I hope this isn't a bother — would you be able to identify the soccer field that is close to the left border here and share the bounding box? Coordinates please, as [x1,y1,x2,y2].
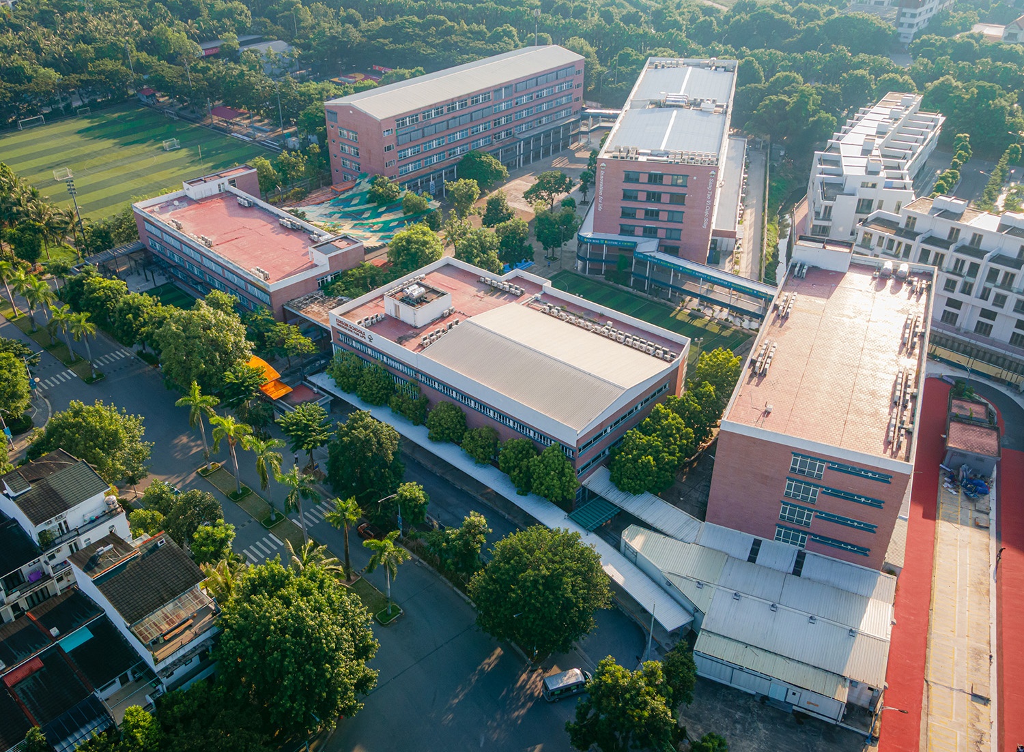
[0,104,333,290]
